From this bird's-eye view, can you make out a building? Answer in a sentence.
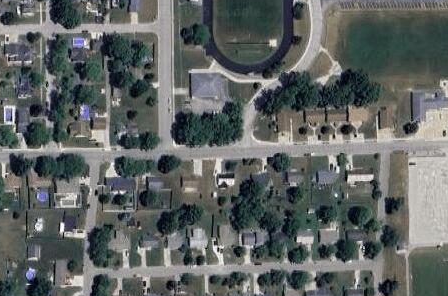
Yes, the photo shows a building.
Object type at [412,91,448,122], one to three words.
building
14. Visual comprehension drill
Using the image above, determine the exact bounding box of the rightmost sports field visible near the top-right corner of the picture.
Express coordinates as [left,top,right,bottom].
[334,11,448,82]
